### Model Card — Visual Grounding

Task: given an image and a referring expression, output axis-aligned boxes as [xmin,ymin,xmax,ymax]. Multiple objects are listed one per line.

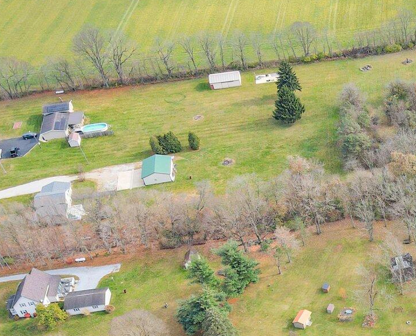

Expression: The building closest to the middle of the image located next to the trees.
[142,151,174,186]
